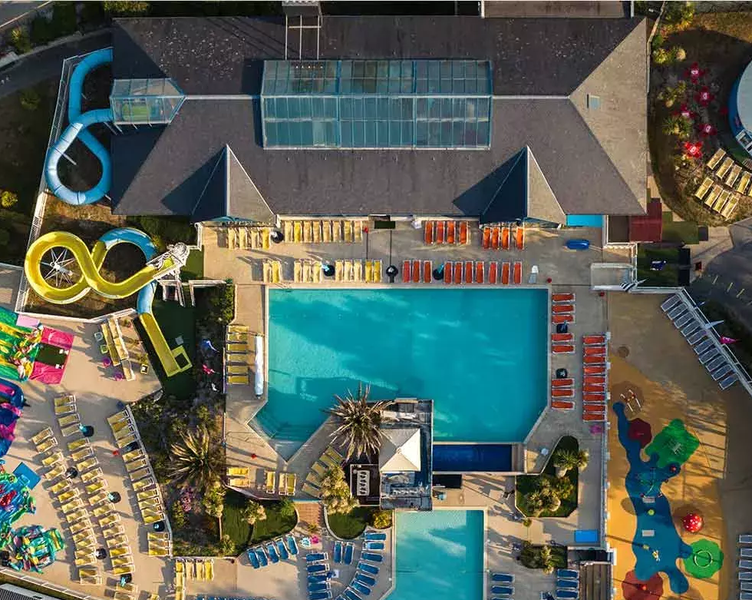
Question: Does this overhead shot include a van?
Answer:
No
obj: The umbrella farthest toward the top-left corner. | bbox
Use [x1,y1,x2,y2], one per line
[270,227,283,242]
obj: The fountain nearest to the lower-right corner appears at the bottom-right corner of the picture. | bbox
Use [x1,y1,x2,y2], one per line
[680,511,702,532]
